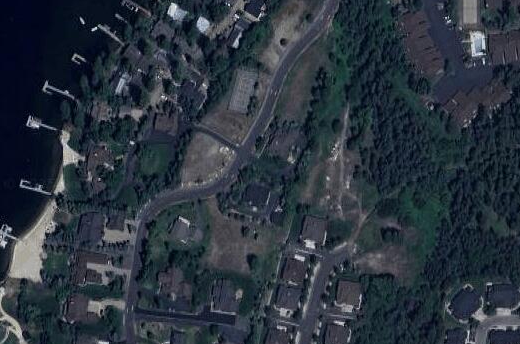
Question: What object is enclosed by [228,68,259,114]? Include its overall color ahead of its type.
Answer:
gray tennis court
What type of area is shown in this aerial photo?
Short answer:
residential area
